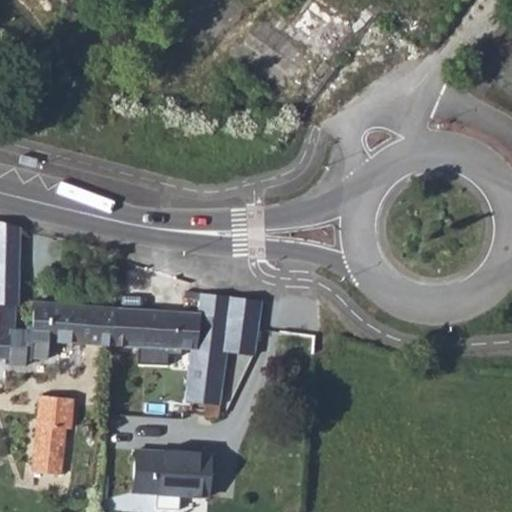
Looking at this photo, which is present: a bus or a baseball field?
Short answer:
bus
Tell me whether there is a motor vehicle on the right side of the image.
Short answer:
No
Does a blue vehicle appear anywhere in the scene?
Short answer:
No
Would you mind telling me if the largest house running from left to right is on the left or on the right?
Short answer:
left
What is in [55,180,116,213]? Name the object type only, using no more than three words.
bus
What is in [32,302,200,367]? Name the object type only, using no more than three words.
house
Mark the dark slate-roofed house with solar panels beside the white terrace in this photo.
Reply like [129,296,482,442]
[132,450,213,498]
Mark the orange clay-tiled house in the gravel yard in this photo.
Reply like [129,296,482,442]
[30,396,74,475]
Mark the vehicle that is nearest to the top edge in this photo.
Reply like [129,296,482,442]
[17,154,46,169]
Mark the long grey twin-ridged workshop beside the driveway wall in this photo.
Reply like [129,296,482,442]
[184,294,264,420]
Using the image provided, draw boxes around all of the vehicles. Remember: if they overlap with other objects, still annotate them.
[55,180,116,213]
[112,432,132,442]
[144,212,167,222]
[190,216,210,226]
[138,426,163,437]
[17,154,46,169]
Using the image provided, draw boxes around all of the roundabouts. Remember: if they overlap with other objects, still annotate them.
[343,129,512,326]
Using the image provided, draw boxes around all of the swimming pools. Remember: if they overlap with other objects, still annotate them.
[144,402,168,416]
